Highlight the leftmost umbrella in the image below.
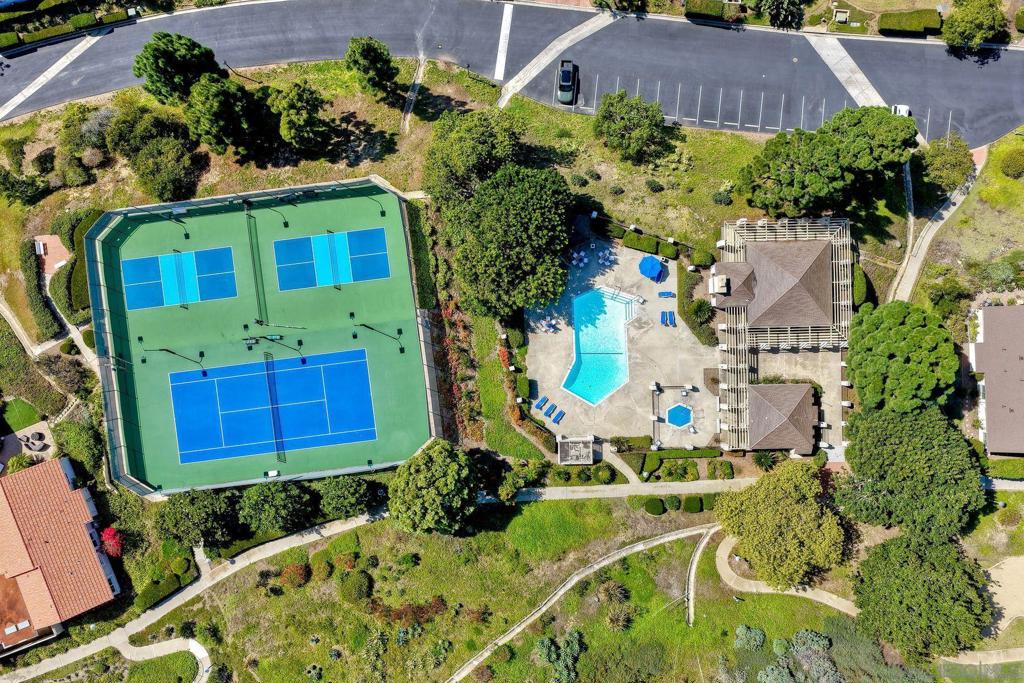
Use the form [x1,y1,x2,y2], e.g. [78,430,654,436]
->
[638,255,662,279]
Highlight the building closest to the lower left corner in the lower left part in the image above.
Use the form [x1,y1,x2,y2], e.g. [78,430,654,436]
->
[0,453,125,654]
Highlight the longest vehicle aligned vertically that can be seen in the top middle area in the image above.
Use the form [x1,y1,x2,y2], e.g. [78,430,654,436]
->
[558,57,576,104]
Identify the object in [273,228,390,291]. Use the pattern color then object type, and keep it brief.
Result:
blue sports court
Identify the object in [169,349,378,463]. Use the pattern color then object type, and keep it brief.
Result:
blue tennis court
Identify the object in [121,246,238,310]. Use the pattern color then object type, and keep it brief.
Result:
blue sports court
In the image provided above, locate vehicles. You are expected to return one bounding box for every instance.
[890,102,911,122]
[558,57,576,104]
